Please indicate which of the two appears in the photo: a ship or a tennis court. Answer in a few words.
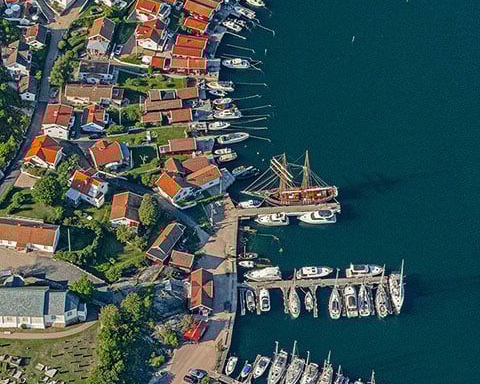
ship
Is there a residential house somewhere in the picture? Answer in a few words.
Yes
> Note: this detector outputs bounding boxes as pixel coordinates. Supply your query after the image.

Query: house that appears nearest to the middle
[200,164,226,194]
